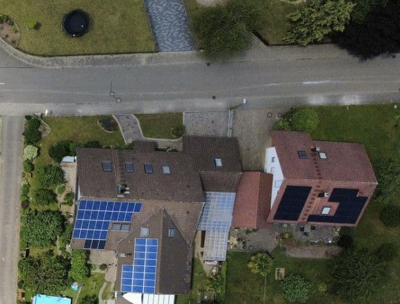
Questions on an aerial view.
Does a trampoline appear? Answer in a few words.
Yes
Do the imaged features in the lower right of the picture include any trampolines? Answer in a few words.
No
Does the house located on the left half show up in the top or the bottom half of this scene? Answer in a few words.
bottom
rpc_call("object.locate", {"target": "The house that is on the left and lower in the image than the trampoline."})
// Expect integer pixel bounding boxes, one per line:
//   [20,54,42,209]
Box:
[69,135,241,304]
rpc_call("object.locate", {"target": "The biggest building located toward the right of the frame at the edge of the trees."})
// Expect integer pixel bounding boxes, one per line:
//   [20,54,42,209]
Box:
[258,130,378,226]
